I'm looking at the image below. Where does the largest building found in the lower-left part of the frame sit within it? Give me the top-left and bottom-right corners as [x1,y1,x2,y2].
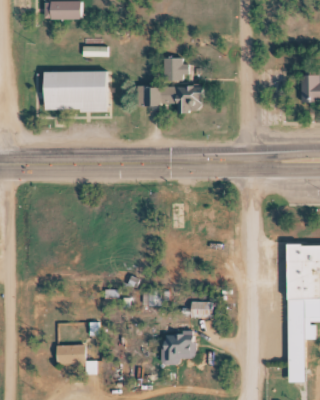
[56,344,86,366]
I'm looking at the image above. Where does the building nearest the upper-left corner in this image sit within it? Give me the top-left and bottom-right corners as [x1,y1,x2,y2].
[44,2,84,20]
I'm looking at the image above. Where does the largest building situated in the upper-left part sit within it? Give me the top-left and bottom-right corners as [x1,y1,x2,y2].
[42,72,109,112]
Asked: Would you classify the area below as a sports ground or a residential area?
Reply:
residential area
